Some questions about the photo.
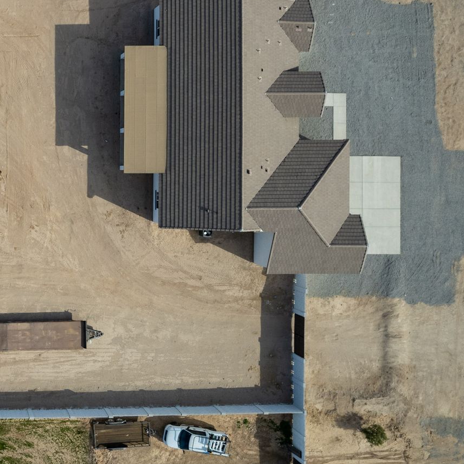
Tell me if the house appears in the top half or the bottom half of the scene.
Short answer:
top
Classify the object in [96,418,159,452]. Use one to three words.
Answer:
trailer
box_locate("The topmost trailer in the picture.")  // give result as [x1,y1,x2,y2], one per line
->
[0,325,103,353]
